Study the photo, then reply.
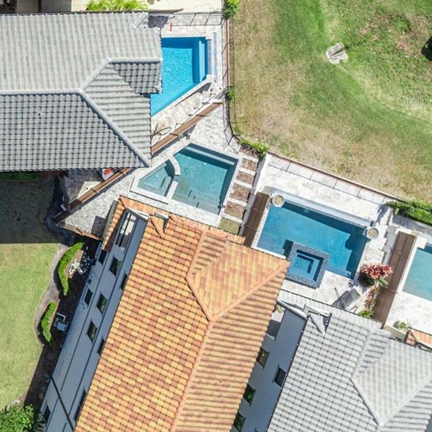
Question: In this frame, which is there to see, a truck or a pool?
pool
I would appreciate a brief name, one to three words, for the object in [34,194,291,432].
house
